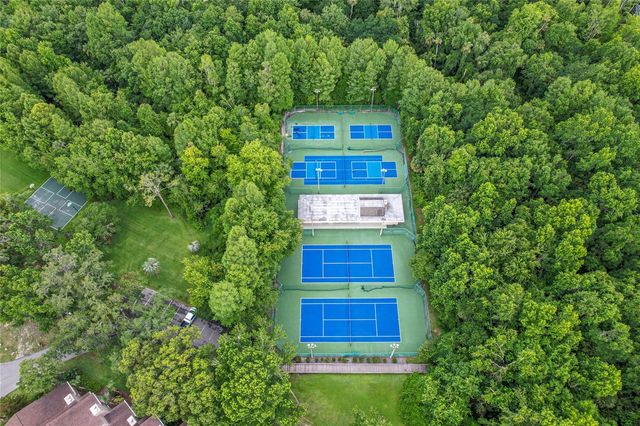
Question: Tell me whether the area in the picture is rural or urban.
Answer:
rural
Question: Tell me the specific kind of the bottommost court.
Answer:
tennis court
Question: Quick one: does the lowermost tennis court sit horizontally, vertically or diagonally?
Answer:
horizontally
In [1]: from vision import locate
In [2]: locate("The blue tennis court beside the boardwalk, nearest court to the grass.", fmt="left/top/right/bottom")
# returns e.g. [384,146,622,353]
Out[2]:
[299,294,401,346]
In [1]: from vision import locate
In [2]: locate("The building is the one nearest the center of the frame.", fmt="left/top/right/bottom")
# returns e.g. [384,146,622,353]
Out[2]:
[298,194,404,229]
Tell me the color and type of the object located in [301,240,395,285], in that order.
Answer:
blue tennis court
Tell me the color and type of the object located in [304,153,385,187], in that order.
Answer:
blue tennis court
